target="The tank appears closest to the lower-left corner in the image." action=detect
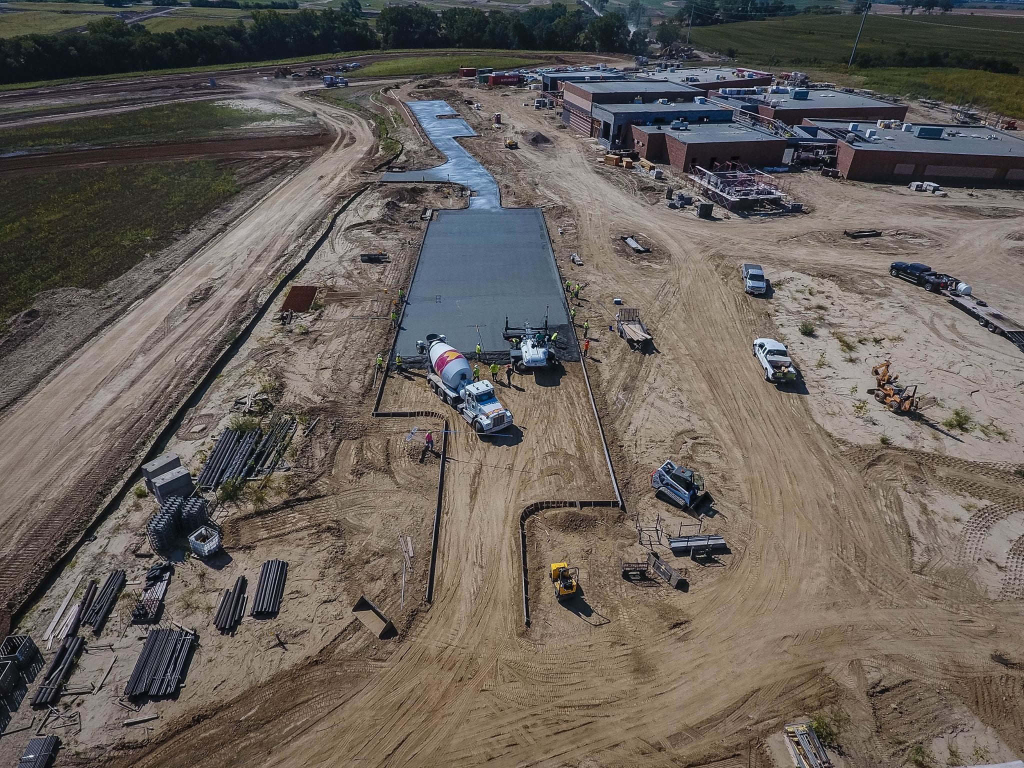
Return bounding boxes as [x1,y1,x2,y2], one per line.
[188,525,222,558]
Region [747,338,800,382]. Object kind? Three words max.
truck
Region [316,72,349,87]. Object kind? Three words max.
vehicle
